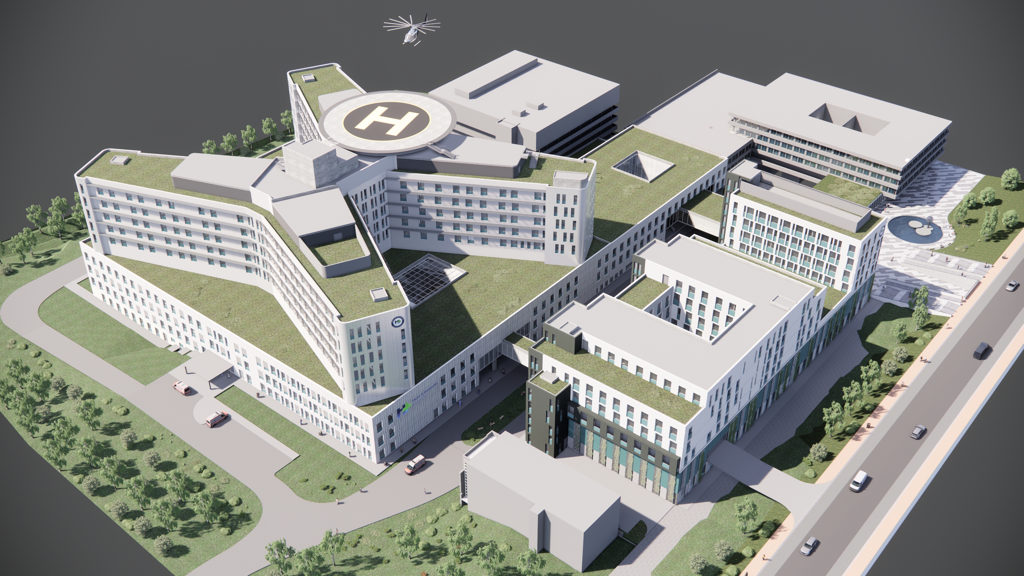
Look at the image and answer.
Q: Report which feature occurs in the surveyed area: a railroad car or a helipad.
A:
helipad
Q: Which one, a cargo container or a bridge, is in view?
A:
bridge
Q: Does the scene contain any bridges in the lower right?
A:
Yes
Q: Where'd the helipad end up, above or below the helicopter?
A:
below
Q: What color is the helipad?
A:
white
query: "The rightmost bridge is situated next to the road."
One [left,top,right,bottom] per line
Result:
[707,441,837,530]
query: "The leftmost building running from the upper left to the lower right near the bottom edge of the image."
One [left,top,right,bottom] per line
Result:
[456,429,621,573]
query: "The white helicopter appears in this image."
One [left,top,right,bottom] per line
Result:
[384,14,441,46]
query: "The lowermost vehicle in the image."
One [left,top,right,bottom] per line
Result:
[801,539,818,557]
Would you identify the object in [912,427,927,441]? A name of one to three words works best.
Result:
car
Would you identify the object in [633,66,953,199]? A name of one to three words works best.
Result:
building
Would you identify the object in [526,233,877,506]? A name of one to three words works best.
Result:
building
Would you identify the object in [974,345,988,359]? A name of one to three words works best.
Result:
vehicle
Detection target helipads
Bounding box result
[319,90,458,158]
